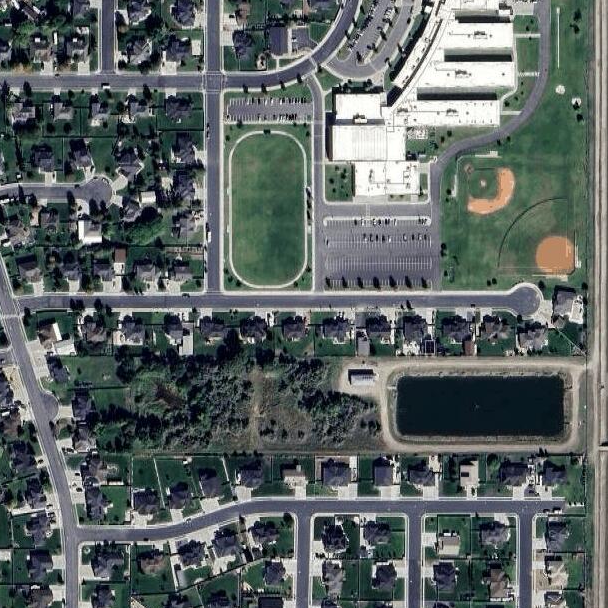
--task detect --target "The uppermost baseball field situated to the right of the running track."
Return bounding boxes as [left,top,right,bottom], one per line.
[466,166,513,215]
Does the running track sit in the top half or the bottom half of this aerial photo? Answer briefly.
top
